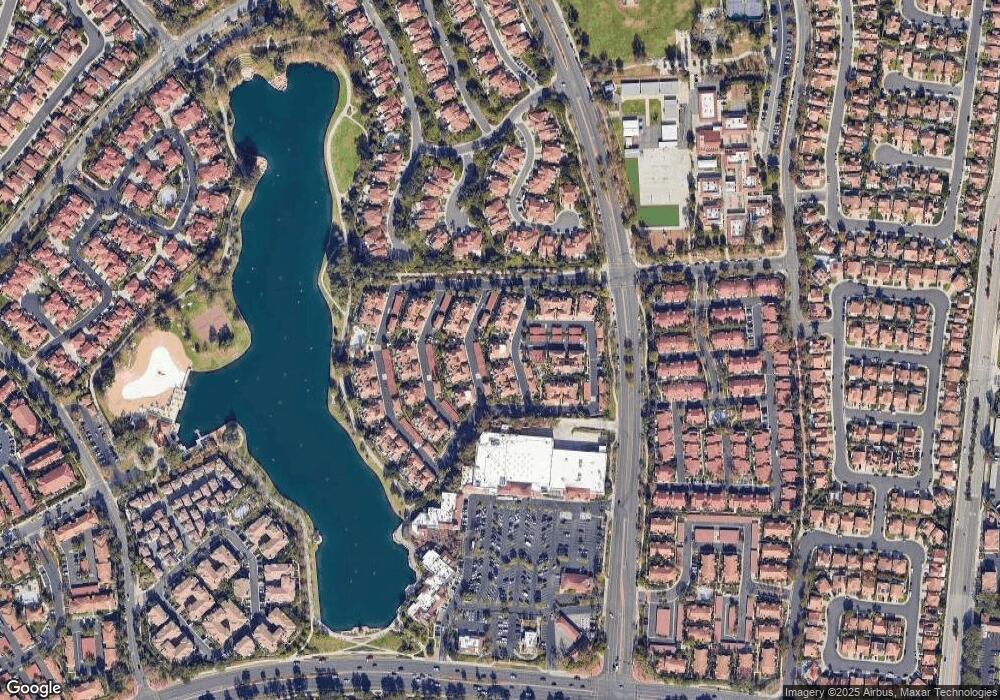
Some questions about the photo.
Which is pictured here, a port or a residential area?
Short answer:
residential area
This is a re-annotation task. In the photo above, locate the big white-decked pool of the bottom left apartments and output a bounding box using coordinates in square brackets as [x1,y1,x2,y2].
[16,576,40,602]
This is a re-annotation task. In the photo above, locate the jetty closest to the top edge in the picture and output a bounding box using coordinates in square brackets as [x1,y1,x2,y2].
[146,367,190,423]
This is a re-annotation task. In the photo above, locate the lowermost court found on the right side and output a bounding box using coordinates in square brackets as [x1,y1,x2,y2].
[640,148,688,205]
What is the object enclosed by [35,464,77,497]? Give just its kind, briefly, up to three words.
building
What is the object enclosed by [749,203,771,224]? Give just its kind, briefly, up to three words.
building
